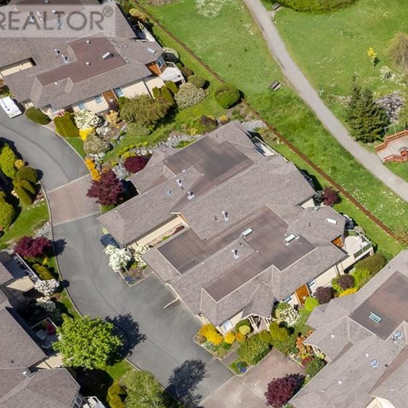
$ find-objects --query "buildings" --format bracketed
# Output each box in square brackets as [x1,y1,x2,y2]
[287,253,408,408]
[0,248,106,408]
[95,118,374,335]
[0,0,188,125]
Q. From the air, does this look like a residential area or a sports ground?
residential area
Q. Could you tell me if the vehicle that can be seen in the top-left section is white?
Yes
